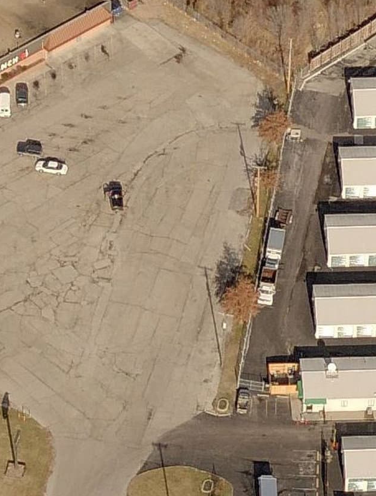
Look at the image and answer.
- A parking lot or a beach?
parking lot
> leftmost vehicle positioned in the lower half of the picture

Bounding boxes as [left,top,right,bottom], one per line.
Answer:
[235,386,250,411]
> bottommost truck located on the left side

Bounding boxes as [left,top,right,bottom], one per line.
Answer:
[105,182,126,208]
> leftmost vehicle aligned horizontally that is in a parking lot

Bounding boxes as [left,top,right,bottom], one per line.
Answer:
[15,142,46,157]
